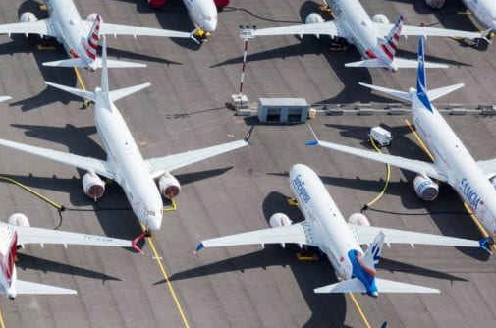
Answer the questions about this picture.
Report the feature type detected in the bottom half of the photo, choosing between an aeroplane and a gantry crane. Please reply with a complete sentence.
Visible in the bottom half of the photo is an aeroplane.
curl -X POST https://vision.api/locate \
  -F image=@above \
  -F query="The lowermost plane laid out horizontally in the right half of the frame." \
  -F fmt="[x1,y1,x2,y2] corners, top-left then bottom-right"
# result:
[197,163,493,299]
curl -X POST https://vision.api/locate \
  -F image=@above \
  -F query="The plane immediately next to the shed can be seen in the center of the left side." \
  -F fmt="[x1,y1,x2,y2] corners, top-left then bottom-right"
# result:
[0,35,253,234]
